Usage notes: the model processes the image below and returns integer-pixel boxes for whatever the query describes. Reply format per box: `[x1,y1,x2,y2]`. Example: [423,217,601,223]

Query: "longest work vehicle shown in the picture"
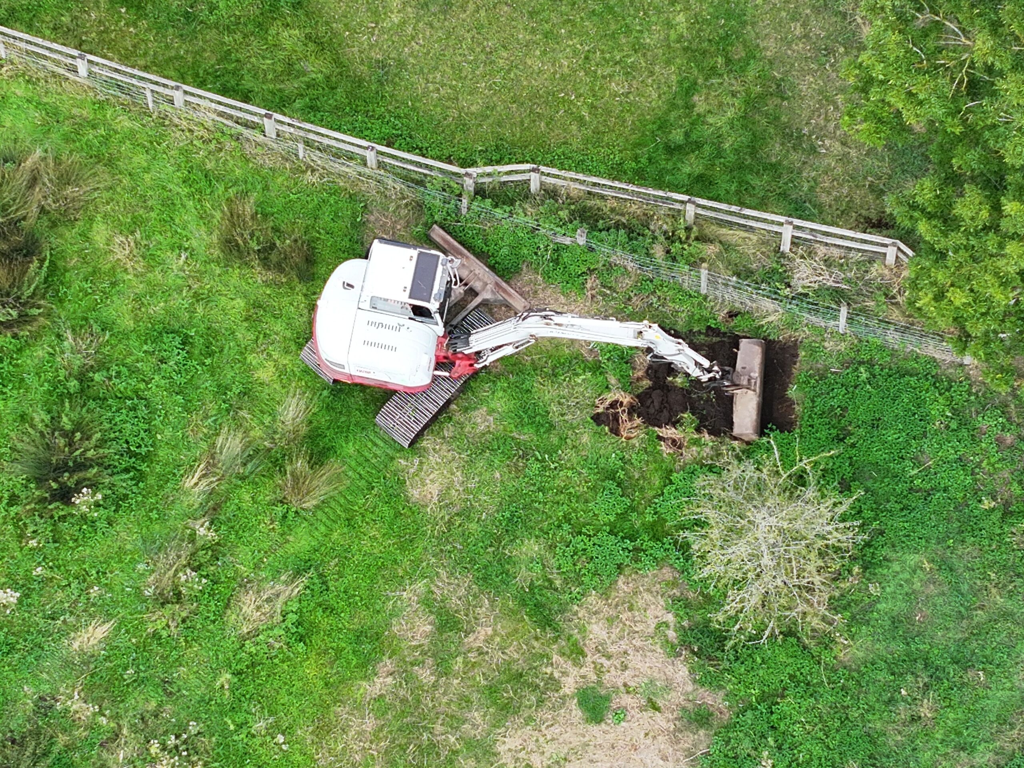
[297,218,764,449]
